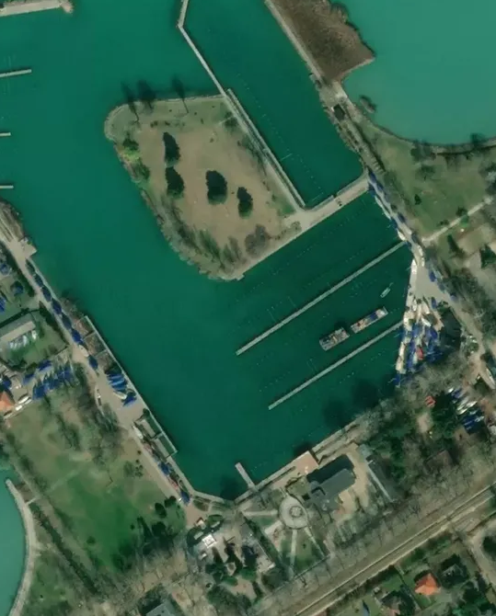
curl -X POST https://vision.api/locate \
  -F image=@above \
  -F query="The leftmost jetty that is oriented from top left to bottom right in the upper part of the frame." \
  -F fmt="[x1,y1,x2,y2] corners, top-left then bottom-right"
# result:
[179,25,228,98]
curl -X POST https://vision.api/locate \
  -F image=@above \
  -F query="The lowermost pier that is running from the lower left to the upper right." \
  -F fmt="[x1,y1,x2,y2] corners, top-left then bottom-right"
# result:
[268,321,401,410]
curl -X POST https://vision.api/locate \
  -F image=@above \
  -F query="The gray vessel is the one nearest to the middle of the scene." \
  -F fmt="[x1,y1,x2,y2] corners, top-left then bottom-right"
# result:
[320,323,350,347]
